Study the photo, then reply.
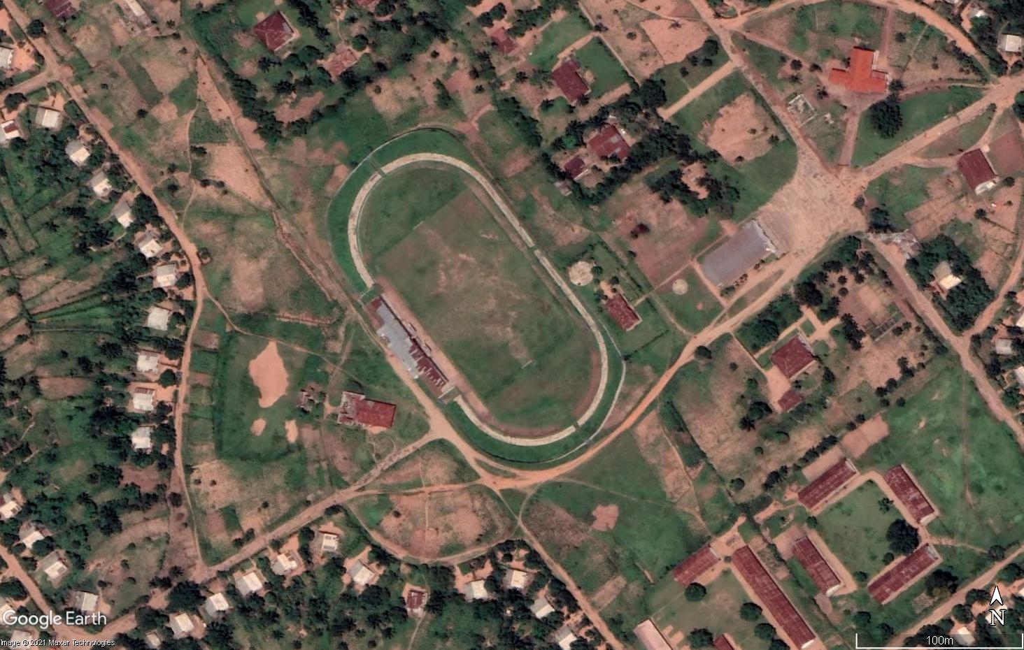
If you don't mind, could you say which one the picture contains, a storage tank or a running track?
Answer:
running track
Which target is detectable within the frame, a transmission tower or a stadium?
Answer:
stadium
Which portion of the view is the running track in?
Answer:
center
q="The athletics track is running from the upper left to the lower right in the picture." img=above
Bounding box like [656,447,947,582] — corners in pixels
[360,163,599,437]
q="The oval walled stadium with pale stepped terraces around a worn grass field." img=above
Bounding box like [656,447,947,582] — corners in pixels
[325,127,624,464]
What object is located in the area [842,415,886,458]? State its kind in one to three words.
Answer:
sports court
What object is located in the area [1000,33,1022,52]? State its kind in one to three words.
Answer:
house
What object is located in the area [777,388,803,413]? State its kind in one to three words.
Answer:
shed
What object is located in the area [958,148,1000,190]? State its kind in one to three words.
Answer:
building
